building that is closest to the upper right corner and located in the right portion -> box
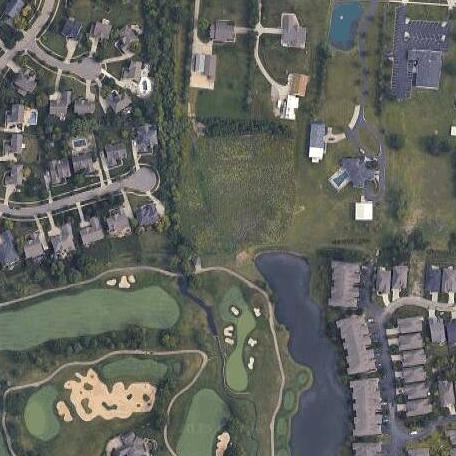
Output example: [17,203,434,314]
[407,50,441,89]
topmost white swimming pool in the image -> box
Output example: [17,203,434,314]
[139,76,152,96]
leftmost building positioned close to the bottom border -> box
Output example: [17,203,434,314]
[117,430,153,456]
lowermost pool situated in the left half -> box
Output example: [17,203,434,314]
[68,135,91,153]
